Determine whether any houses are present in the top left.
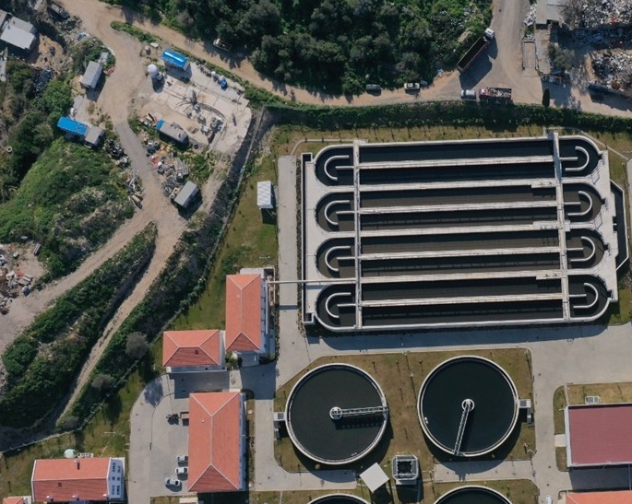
Yes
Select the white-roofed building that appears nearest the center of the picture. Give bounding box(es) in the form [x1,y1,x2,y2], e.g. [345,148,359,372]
[257,180,274,213]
